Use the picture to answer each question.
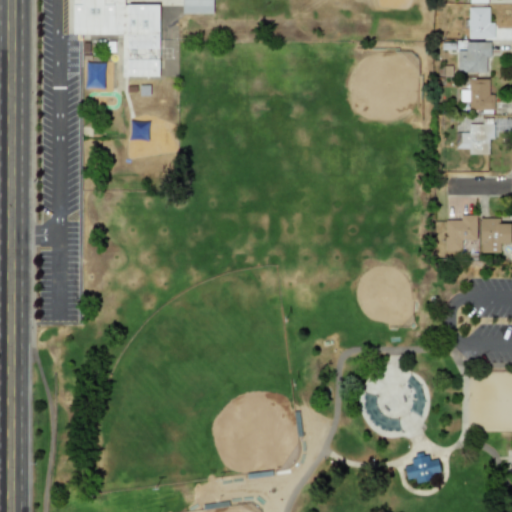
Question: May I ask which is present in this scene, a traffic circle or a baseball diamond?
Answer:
baseball diamond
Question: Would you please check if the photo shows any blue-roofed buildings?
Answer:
Yes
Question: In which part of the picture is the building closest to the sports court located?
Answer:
bottom right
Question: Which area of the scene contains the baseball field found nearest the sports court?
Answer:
right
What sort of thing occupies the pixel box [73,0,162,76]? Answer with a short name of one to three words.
building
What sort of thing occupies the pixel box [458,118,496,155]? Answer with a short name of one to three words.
house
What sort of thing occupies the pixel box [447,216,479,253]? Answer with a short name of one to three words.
house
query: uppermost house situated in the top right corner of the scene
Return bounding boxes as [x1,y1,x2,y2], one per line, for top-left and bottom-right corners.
[470,6,497,39]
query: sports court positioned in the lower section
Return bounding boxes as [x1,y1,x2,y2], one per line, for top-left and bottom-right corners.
[469,372,512,432]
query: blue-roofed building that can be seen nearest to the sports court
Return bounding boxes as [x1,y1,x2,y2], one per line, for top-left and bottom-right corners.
[406,452,444,486]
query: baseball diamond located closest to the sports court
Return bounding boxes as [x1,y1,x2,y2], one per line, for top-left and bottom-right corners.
[356,266,416,328]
